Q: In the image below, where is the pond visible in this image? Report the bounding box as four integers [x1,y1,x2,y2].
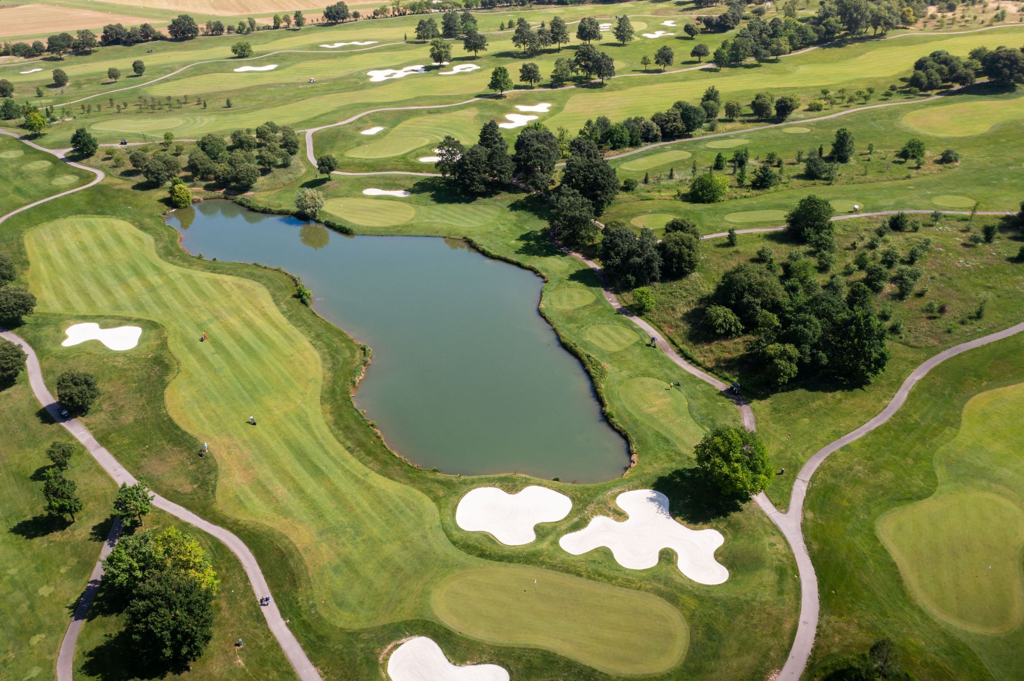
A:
[165,199,631,485]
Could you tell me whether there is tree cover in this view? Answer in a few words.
Yes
